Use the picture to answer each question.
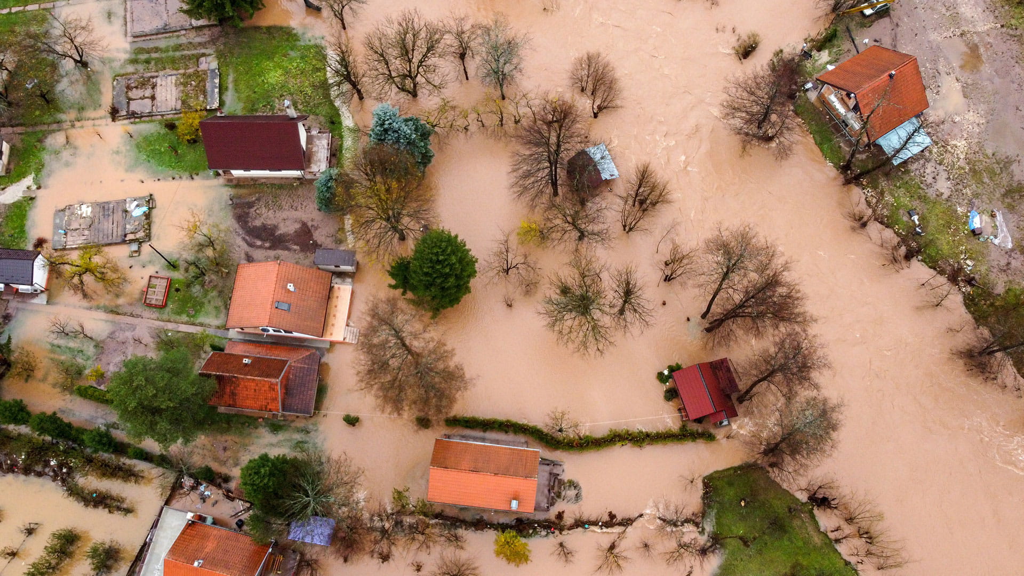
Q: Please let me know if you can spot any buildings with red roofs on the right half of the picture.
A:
Yes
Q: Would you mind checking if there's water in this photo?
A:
Yes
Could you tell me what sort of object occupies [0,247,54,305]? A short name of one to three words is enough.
house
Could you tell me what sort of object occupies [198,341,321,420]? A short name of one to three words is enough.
house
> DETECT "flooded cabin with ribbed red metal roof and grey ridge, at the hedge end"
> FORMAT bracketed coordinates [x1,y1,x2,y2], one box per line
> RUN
[671,357,740,429]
